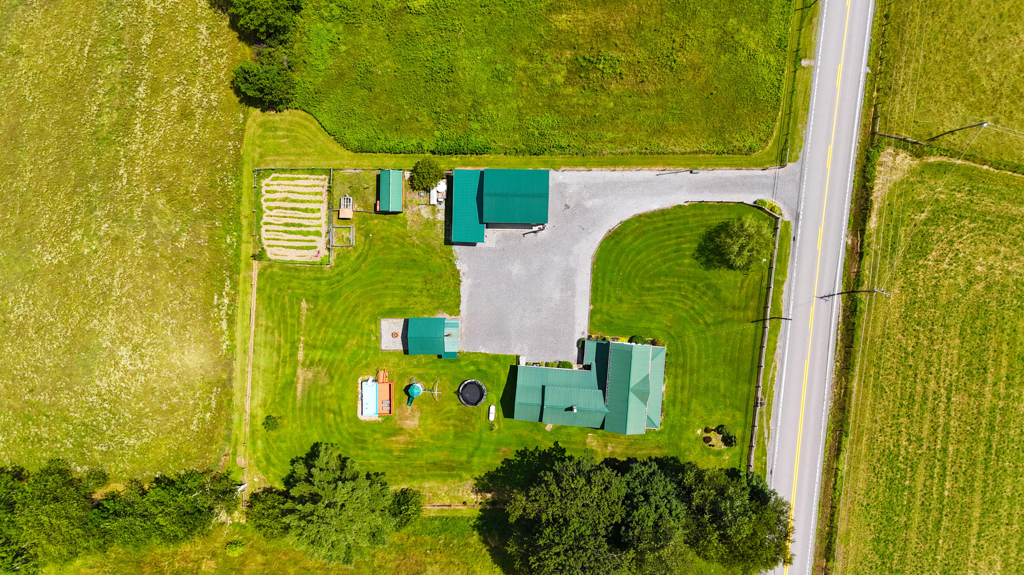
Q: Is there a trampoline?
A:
Yes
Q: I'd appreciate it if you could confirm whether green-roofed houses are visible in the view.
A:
Yes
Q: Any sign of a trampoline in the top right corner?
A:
No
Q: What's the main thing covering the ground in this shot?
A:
grass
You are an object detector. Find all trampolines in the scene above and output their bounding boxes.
[458,378,488,407]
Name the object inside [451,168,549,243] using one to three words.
barn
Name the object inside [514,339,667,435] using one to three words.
house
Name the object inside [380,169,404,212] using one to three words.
shed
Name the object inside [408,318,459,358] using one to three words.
building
